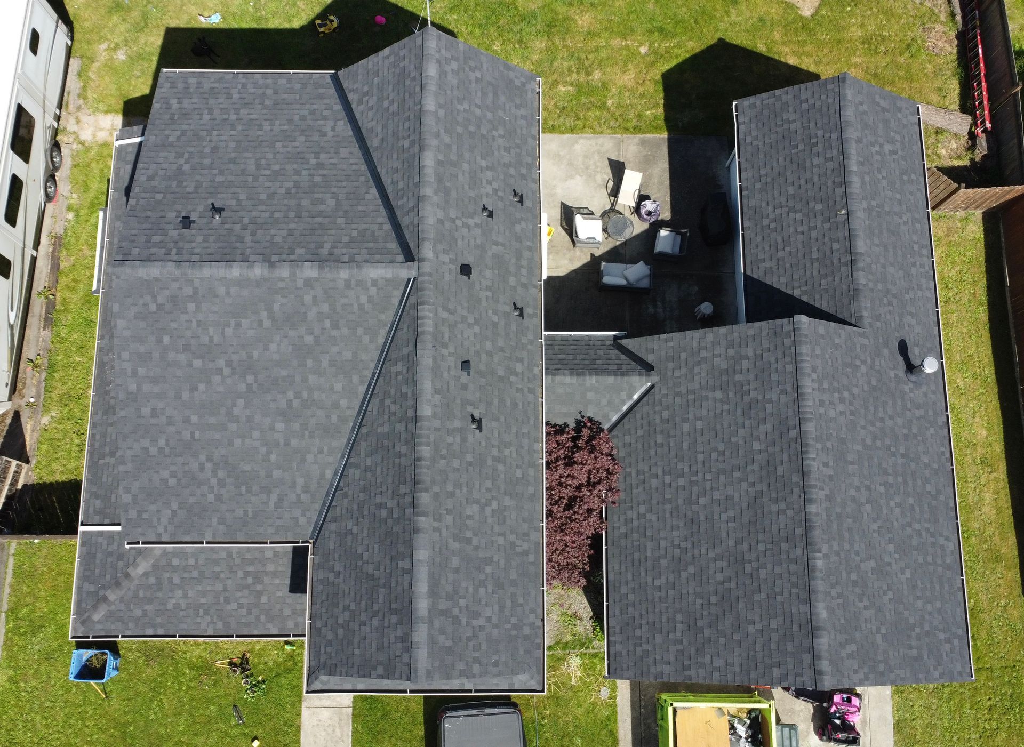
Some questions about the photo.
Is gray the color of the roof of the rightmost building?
Yes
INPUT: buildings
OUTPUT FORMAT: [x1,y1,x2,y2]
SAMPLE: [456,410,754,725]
[67,0,546,695]
[601,78,973,688]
